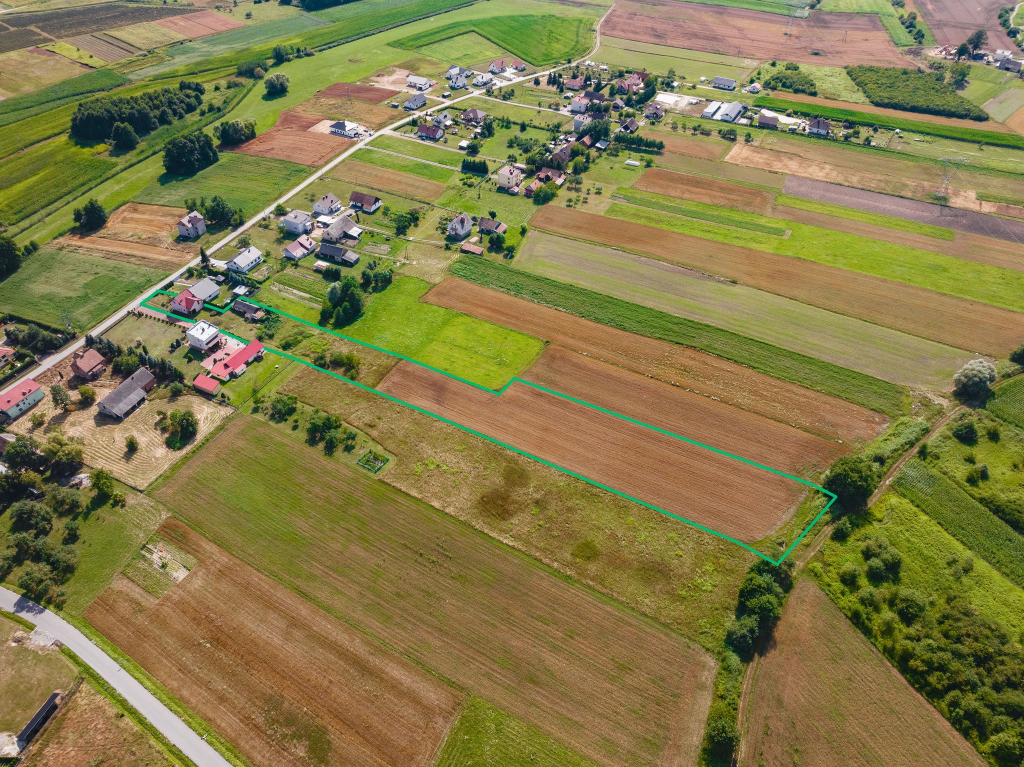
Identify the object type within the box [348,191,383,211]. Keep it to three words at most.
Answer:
building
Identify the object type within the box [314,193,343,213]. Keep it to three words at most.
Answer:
house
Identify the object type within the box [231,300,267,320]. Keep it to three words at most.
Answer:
shed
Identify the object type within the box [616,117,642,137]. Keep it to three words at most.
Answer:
barn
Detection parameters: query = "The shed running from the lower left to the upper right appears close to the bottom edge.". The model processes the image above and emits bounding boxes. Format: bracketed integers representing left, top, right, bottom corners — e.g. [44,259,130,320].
[19,691,58,743]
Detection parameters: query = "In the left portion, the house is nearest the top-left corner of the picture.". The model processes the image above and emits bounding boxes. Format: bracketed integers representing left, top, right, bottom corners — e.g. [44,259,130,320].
[176,211,206,236]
